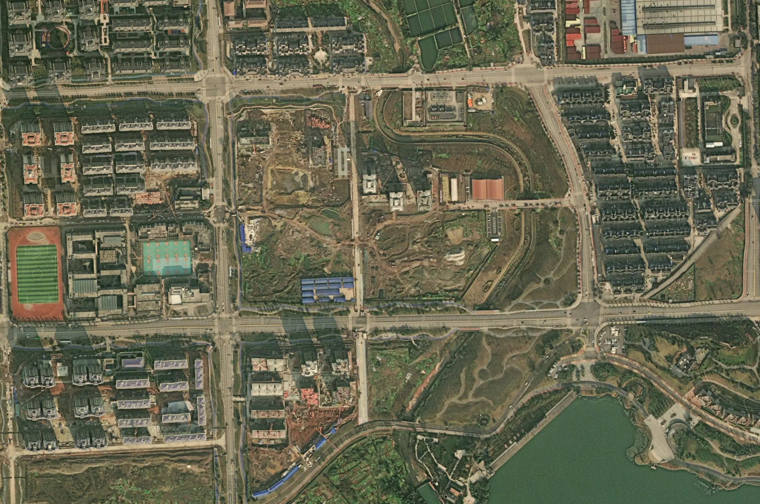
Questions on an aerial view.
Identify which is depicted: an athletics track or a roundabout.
athletics track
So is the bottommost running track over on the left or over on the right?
left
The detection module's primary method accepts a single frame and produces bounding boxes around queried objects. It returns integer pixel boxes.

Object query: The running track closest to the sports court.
[8,226,66,321]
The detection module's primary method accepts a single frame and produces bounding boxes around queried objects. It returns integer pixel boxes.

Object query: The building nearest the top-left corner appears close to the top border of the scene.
[9,1,32,24]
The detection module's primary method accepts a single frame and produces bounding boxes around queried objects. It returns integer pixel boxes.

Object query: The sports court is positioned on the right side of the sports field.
[143,239,191,276]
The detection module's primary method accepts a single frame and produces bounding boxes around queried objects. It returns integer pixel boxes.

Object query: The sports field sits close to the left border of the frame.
[16,246,58,304]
